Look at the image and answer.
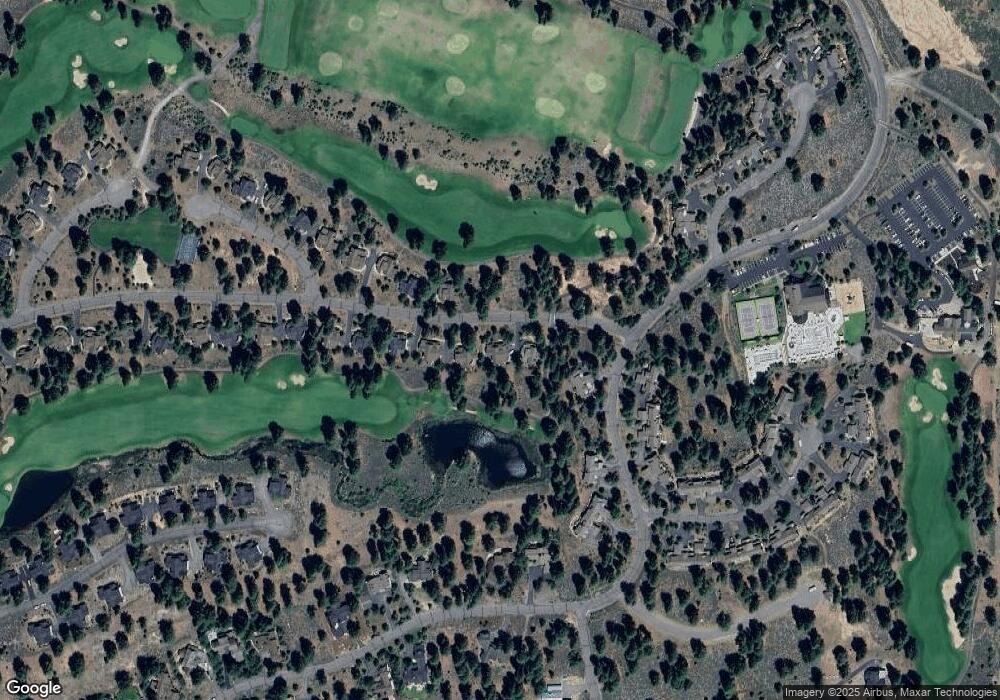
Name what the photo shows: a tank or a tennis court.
tennis court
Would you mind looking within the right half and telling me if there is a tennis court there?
Yes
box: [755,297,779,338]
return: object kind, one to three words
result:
tennis court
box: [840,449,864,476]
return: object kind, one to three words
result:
building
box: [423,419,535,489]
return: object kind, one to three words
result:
pond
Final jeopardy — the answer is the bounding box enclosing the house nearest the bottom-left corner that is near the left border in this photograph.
[25,619,55,646]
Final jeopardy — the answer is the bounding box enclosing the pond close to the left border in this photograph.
[1,470,76,535]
